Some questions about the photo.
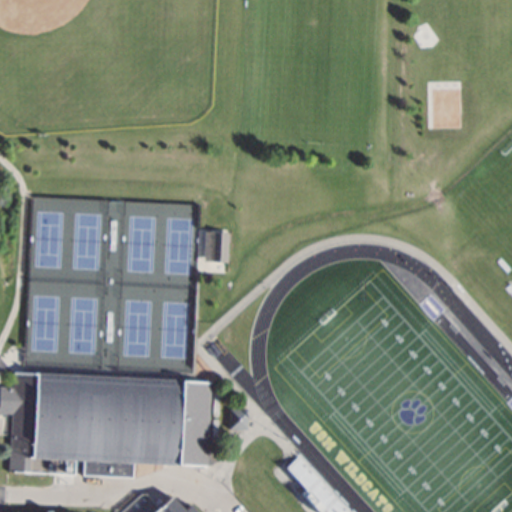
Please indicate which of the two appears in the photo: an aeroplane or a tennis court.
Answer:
tennis court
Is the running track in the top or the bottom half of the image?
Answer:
bottom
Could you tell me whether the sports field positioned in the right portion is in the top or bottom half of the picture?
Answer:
bottom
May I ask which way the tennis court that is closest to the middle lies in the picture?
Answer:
up and down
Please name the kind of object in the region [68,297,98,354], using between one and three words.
tennis court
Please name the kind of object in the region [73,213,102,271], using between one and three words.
tennis court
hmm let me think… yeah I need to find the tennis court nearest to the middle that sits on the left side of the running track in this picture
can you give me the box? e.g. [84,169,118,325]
[164,218,193,275]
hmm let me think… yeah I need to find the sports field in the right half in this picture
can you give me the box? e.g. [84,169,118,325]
[267,260,512,512]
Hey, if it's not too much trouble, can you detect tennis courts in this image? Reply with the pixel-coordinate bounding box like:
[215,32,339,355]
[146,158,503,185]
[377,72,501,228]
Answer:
[160,301,190,359]
[126,216,156,274]
[73,213,102,271]
[30,296,60,353]
[35,212,64,270]
[122,300,152,358]
[164,218,193,275]
[68,297,98,354]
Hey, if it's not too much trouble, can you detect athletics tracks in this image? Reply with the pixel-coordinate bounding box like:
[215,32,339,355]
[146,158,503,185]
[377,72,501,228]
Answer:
[249,245,512,512]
